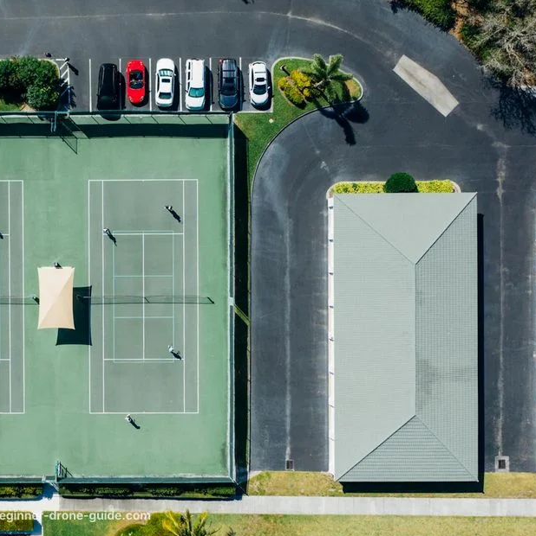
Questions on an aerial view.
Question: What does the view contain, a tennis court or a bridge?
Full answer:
The image shows a tennis court.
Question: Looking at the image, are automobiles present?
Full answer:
Yes, there's an automobile down there.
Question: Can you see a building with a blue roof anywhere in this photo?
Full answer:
No, the frame has no building with a blue roof in it.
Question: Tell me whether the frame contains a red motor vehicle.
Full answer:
Yes, there's a red motor vehicle down there.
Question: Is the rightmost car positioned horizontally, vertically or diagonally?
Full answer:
In this picture, the rightmost car is oriented vertically.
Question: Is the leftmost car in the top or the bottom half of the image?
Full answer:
Seen from above, the leftmost car lies in the top half of the view.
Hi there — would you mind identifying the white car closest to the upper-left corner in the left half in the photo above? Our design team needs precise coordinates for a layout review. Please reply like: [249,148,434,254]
[155,58,178,108]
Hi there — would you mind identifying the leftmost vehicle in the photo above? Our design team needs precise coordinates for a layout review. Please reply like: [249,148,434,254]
[95,60,119,111]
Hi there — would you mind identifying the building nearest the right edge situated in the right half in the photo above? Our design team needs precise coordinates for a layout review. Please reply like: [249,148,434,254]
[326,192,478,483]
